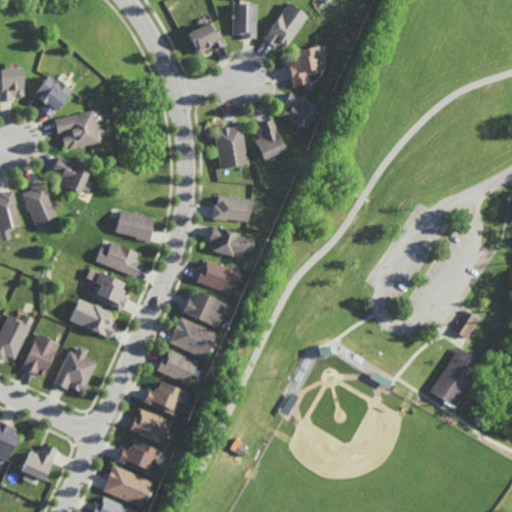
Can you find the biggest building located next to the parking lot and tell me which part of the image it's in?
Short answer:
bottom right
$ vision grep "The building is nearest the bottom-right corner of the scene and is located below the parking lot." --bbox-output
[434,347,474,408]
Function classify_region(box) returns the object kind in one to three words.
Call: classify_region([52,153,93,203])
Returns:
house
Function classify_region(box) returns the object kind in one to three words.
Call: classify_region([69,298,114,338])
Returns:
house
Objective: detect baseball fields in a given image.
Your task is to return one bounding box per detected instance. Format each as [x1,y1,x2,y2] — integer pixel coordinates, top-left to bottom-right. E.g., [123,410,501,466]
[232,358,512,512]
